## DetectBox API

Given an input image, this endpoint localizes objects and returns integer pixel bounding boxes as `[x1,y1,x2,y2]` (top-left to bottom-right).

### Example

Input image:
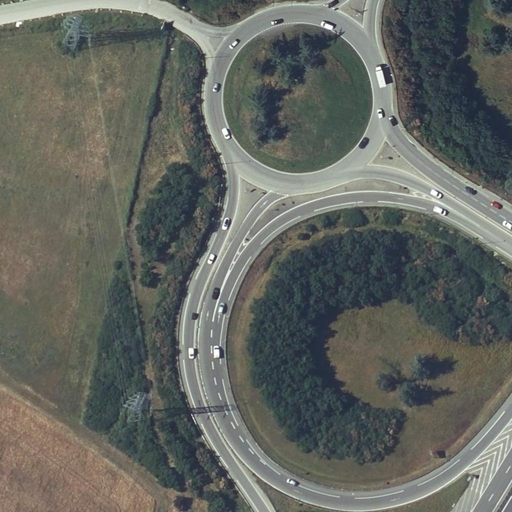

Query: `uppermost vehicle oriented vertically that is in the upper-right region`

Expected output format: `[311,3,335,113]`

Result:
[376,67,388,89]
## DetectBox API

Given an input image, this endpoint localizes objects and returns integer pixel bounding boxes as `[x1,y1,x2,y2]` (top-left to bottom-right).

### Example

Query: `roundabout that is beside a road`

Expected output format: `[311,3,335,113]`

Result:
[201,2,390,195]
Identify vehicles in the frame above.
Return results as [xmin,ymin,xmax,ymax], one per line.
[327,0,339,10]
[212,288,219,301]
[358,138,369,150]
[222,128,230,140]
[378,108,384,120]
[376,67,388,89]
[191,311,198,323]
[188,348,194,360]
[207,254,216,266]
[429,190,442,200]
[214,346,220,360]
[320,22,334,32]
[388,115,398,128]
[501,220,512,230]
[490,201,502,210]
[285,478,298,487]
[212,82,219,94]
[222,218,230,231]
[218,303,224,315]
[229,39,240,50]
[464,186,478,196]
[432,206,446,217]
